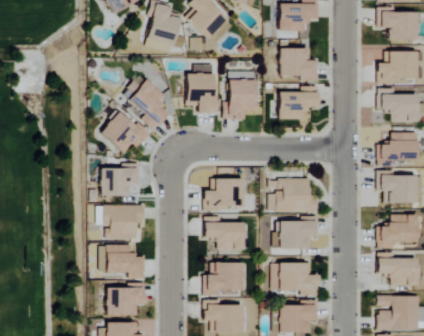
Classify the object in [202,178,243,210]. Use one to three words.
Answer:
house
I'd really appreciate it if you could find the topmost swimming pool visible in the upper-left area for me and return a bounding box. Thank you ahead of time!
[94,28,115,40]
